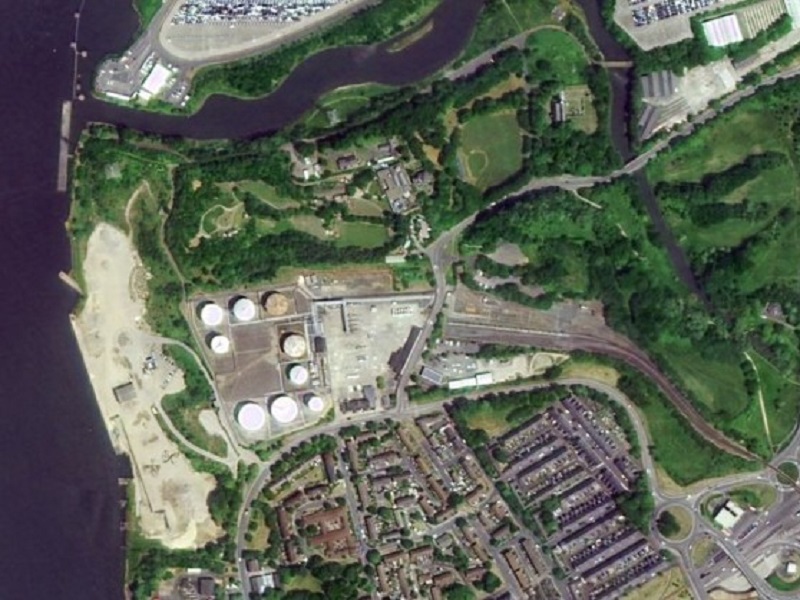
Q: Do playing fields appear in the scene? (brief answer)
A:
Yes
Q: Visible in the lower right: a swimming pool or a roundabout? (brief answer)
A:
roundabout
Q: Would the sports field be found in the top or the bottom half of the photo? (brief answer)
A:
top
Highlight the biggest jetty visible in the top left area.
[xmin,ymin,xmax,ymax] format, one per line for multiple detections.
[58,101,71,191]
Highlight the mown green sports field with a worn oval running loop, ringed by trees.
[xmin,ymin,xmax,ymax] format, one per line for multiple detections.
[459,108,522,191]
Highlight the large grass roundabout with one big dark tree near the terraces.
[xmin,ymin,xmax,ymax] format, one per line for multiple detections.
[650,496,702,548]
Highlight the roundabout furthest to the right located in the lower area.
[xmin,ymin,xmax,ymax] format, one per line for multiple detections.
[770,455,800,491]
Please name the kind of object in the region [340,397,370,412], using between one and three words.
building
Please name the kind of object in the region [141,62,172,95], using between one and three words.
building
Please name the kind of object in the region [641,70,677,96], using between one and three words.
shed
